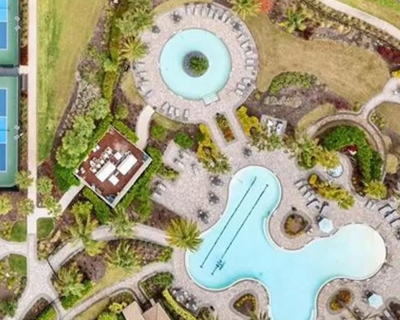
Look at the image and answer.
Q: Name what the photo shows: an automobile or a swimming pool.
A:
swimming pool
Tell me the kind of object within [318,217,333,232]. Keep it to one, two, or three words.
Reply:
umbrella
